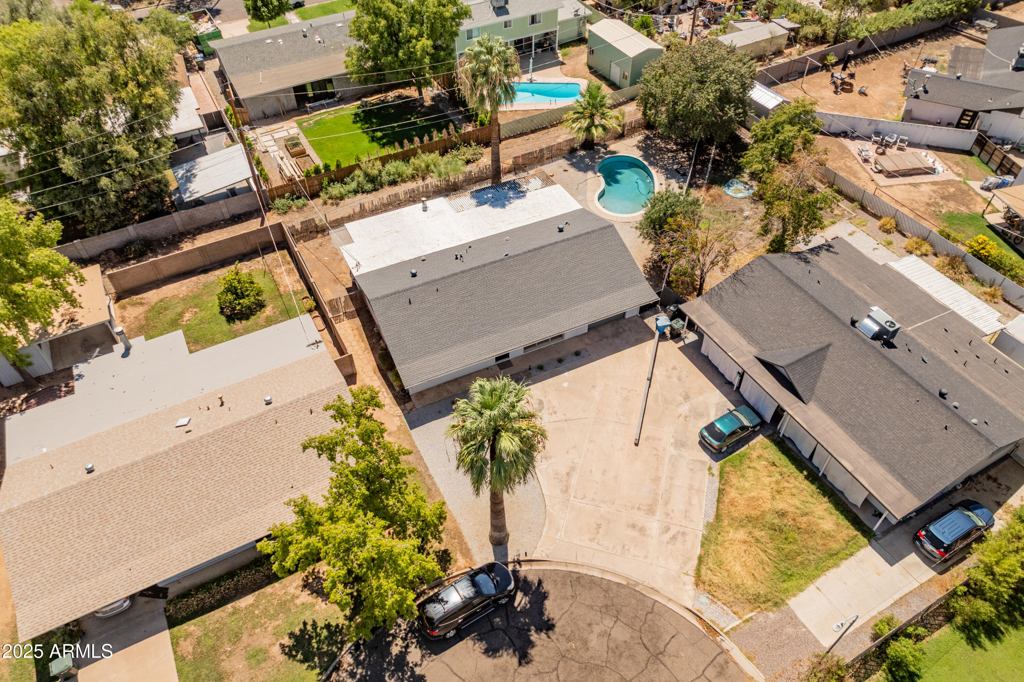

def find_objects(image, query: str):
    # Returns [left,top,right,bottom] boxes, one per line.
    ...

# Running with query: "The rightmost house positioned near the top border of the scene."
[899,24,1024,147]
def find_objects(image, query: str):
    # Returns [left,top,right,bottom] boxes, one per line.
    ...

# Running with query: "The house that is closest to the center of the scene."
[340,184,659,394]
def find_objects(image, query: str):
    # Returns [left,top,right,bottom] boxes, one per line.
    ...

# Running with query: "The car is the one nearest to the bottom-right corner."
[912,494,1003,567]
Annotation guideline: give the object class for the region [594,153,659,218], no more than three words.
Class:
swimming pool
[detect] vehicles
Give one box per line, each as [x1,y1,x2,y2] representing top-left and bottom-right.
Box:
[912,494,1003,567]
[694,401,770,457]
[411,558,522,649]
[87,597,132,624]
[289,0,306,6]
